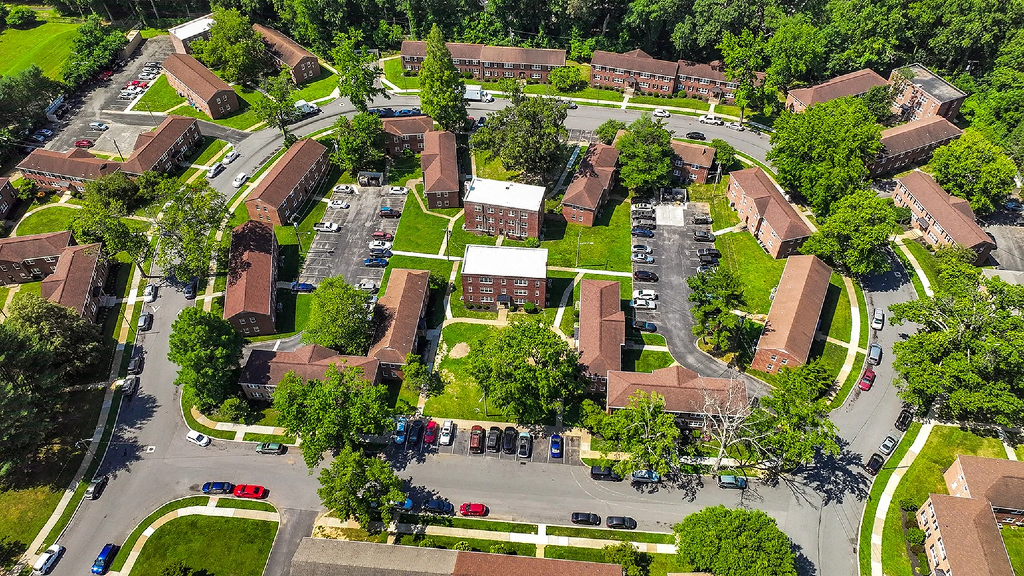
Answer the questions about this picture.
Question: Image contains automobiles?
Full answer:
Yes, the frame does contain an automobile.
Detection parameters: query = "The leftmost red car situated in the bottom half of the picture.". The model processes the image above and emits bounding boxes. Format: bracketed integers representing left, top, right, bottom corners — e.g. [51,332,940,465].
[235,485,267,499]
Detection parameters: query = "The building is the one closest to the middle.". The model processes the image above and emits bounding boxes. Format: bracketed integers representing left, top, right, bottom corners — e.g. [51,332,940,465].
[461,244,549,315]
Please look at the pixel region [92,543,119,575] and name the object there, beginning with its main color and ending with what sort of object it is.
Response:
blue car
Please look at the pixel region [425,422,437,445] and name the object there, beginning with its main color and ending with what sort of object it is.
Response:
red vehicle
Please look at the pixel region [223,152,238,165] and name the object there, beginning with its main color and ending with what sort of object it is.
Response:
white vehicle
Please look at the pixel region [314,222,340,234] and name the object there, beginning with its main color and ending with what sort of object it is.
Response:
white vehicle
